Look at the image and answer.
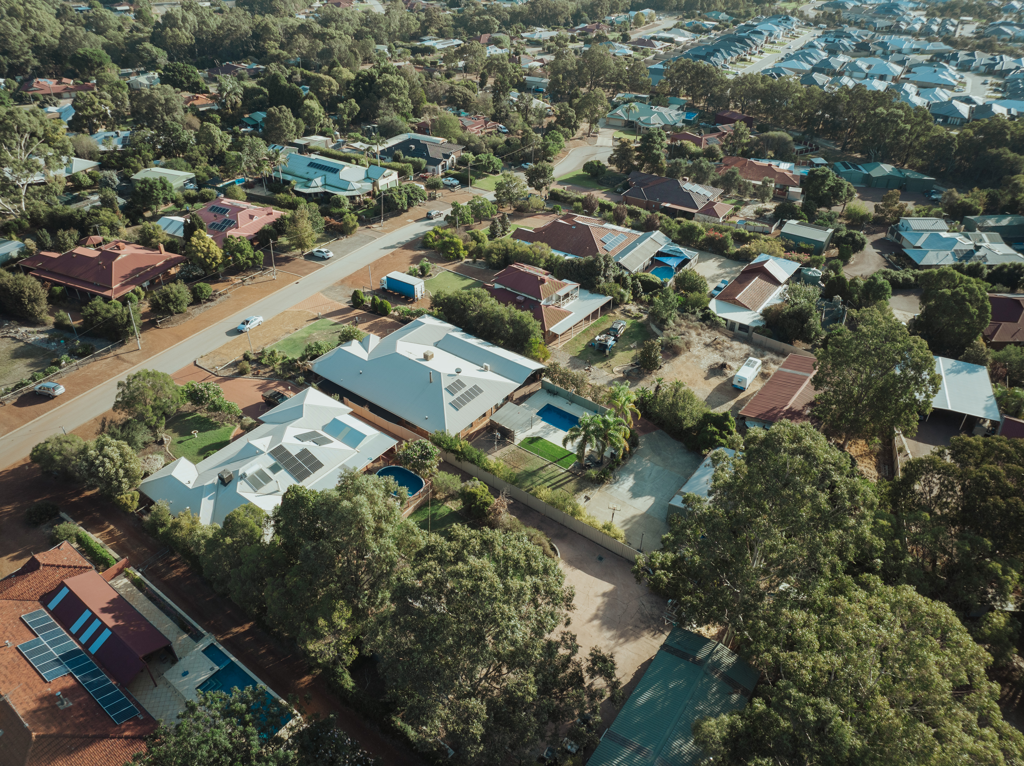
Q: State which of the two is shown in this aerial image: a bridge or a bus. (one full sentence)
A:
There is a bus in the scene.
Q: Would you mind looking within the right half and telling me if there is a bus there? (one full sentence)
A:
Yes, looking within the right half, one can make out a bus.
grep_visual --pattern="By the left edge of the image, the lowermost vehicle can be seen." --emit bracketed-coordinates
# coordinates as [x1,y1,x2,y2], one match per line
[29,379,65,397]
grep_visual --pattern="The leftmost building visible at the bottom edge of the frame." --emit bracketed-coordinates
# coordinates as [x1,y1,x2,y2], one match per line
[0,540,179,764]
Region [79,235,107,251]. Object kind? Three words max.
gazebo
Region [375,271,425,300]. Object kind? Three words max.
truck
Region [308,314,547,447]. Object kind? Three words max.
house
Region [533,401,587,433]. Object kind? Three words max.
swimming pool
